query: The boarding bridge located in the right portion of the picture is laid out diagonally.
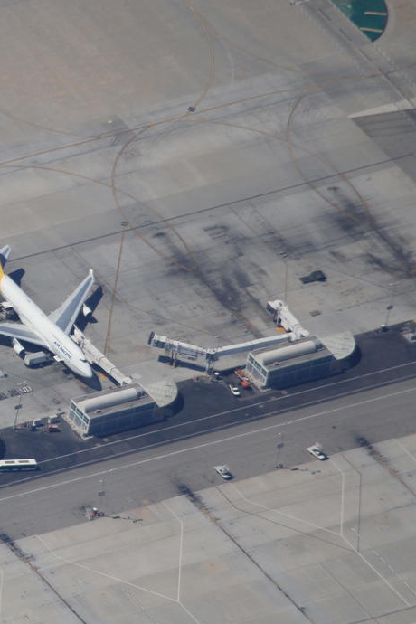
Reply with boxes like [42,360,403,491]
[261,299,311,342]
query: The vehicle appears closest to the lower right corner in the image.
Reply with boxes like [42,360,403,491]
[308,441,324,458]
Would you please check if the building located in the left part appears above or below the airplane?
below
